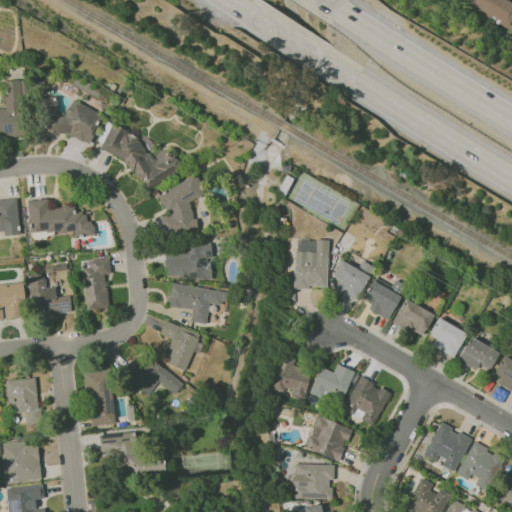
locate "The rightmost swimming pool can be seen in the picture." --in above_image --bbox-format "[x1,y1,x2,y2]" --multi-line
[456,477,478,491]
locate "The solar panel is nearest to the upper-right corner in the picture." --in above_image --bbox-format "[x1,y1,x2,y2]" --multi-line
[298,240,316,252]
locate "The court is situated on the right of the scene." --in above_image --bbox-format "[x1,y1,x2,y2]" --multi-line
[290,173,359,230]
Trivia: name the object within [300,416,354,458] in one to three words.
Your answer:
house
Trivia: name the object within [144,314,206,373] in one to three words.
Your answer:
house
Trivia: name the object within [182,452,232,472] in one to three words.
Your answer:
tennis court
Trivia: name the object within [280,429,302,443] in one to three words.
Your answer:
swimming pool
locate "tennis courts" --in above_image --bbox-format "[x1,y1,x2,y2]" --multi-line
[290,173,359,230]
[182,452,232,472]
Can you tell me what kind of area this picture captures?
residential area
